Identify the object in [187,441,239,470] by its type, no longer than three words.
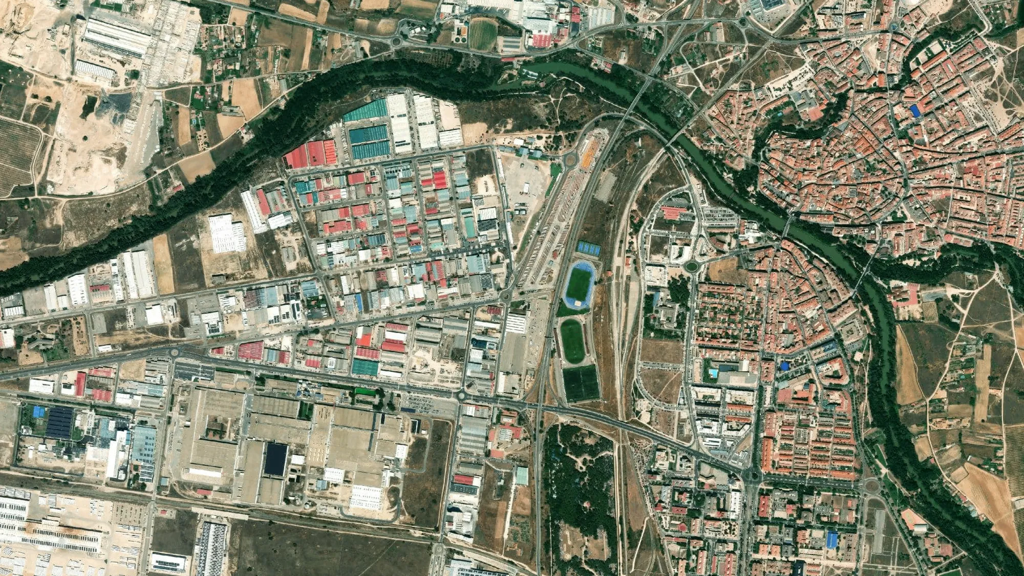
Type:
building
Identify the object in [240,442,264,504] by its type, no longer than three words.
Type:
building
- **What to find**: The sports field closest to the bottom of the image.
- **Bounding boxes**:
[562,364,602,404]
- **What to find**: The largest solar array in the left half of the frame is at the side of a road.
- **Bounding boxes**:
[46,408,73,437]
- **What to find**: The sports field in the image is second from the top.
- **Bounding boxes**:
[557,316,592,367]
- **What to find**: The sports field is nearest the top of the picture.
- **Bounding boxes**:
[567,267,592,300]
